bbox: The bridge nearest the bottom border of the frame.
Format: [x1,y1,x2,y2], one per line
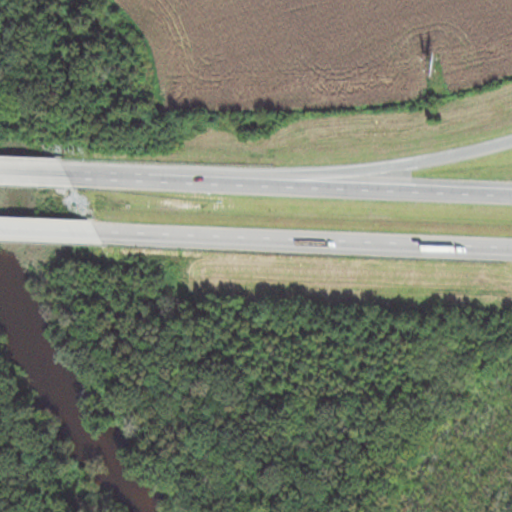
[0,216,104,245]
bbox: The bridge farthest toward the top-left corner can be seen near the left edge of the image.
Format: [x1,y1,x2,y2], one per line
[0,156,76,188]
